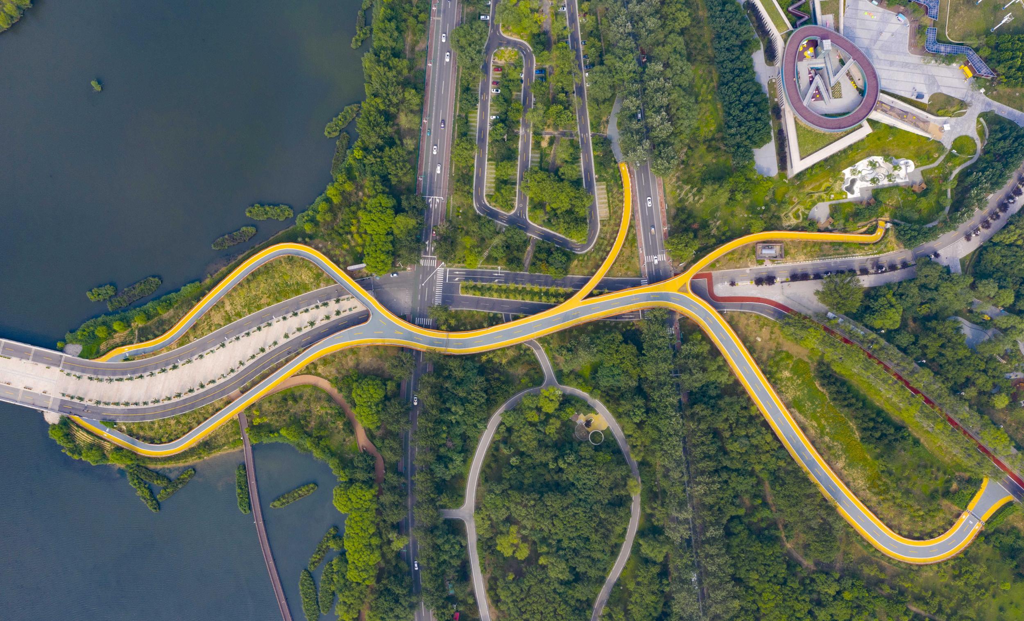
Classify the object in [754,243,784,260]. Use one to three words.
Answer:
building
